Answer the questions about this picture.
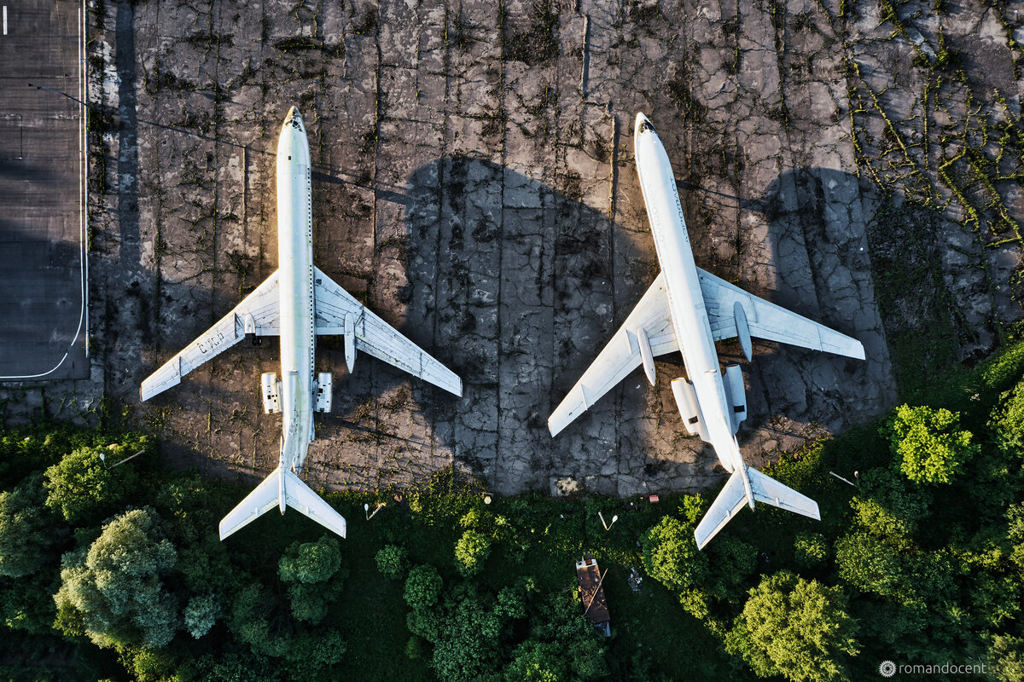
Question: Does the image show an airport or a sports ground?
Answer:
airport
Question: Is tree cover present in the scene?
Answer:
Yes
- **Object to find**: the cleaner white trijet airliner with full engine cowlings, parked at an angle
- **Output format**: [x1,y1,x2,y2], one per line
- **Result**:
[551,114,864,548]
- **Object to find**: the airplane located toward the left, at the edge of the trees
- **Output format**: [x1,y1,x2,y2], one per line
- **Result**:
[141,107,461,540]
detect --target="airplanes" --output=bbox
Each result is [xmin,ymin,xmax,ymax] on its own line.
[141,107,461,540]
[551,114,864,548]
